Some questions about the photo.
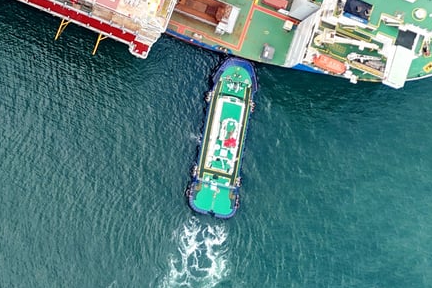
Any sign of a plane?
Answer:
No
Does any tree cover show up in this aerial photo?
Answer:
No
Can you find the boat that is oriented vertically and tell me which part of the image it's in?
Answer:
center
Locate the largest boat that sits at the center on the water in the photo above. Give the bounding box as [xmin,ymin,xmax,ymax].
[188,57,261,222]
